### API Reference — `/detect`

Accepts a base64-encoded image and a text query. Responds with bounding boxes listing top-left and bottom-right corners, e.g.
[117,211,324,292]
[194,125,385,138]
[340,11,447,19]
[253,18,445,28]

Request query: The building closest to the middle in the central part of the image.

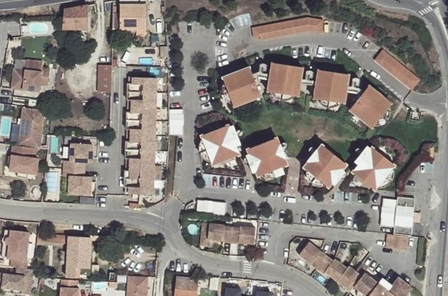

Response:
[200,126,242,168]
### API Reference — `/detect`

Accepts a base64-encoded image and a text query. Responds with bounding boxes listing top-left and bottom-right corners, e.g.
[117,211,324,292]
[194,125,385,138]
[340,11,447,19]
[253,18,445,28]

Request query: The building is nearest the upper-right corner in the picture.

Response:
[374,49,420,90]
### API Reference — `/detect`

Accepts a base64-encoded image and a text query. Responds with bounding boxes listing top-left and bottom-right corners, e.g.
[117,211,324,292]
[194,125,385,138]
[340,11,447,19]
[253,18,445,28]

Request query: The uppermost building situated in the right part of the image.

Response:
[252,17,323,40]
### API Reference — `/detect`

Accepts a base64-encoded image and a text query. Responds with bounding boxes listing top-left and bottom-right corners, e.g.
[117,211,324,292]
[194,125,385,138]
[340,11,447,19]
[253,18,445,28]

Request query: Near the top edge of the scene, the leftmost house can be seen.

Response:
[62,4,88,32]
